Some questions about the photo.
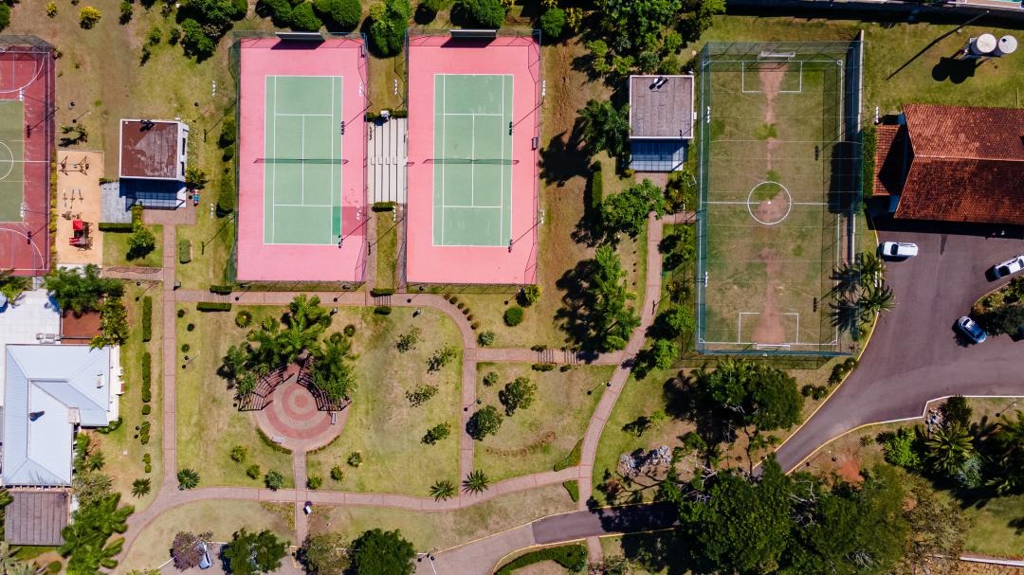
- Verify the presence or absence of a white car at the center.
No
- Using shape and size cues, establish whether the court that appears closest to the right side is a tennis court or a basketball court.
tennis court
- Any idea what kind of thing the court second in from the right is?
tennis court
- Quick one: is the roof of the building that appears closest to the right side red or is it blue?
red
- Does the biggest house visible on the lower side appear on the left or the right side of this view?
left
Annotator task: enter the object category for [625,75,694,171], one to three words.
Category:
building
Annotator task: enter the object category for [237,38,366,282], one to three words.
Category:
tennis court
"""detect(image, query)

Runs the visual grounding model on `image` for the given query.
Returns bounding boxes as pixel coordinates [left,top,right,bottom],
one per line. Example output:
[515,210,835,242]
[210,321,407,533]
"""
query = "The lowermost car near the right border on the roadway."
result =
[955,315,985,344]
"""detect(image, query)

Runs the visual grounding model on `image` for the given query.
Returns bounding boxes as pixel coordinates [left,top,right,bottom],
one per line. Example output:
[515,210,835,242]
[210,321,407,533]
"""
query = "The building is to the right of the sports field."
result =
[869,104,1024,226]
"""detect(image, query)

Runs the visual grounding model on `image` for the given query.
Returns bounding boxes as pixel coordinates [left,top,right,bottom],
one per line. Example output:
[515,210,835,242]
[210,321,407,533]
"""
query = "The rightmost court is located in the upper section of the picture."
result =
[406,36,539,284]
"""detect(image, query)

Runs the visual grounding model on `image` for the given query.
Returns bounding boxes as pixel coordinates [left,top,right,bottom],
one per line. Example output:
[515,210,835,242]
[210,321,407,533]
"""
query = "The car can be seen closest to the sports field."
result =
[880,240,919,257]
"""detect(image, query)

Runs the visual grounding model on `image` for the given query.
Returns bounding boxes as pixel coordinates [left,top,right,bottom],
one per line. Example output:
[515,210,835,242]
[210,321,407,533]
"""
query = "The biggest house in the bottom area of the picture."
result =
[3,344,118,487]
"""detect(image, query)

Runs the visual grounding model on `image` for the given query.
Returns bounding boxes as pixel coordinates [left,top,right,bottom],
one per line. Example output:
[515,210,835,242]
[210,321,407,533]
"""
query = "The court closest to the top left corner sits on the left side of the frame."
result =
[0,46,55,276]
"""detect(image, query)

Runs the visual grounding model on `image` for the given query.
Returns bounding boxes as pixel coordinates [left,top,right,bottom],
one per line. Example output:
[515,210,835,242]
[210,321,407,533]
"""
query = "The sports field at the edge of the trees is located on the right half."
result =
[695,54,845,352]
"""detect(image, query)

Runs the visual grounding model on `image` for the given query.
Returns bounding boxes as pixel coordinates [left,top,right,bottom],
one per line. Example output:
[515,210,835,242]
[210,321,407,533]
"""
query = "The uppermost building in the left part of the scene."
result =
[119,119,191,208]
